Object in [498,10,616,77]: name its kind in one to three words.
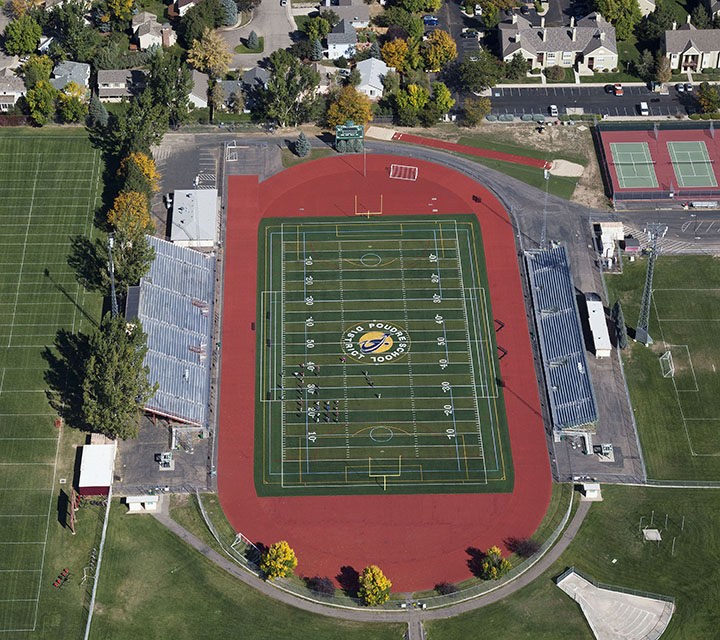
building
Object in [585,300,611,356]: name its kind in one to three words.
building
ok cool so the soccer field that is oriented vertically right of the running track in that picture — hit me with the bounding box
[629,252,720,478]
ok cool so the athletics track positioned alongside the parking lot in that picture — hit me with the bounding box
[215,154,553,593]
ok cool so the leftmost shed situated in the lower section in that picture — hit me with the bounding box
[79,434,116,495]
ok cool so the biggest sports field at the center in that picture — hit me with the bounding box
[254,213,514,497]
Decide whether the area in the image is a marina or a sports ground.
sports ground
